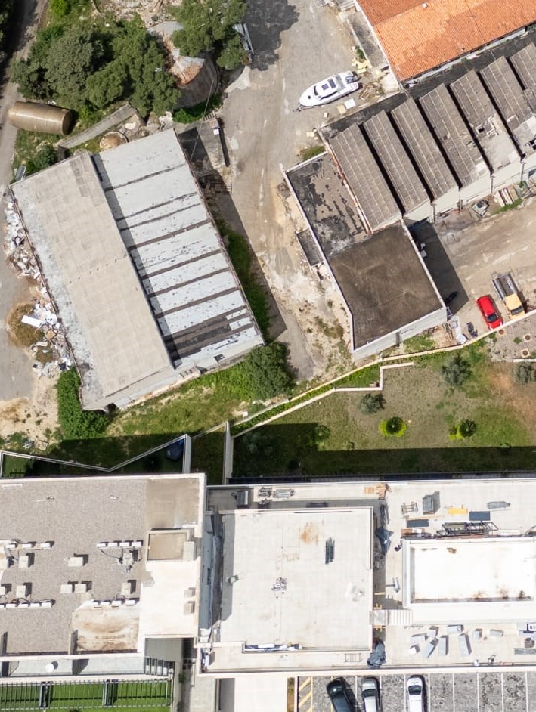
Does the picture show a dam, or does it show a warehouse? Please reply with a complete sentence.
There is a warehouse in the scene.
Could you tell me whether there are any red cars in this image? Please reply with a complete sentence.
Yes, the picture does show a red car.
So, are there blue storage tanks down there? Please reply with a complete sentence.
No, this view has no blue storage tank in it.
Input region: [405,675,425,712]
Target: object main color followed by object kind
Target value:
white car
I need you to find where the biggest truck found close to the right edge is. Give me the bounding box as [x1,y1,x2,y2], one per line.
[489,264,523,316]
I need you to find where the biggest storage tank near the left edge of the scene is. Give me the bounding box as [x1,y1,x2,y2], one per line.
[11,103,73,135]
